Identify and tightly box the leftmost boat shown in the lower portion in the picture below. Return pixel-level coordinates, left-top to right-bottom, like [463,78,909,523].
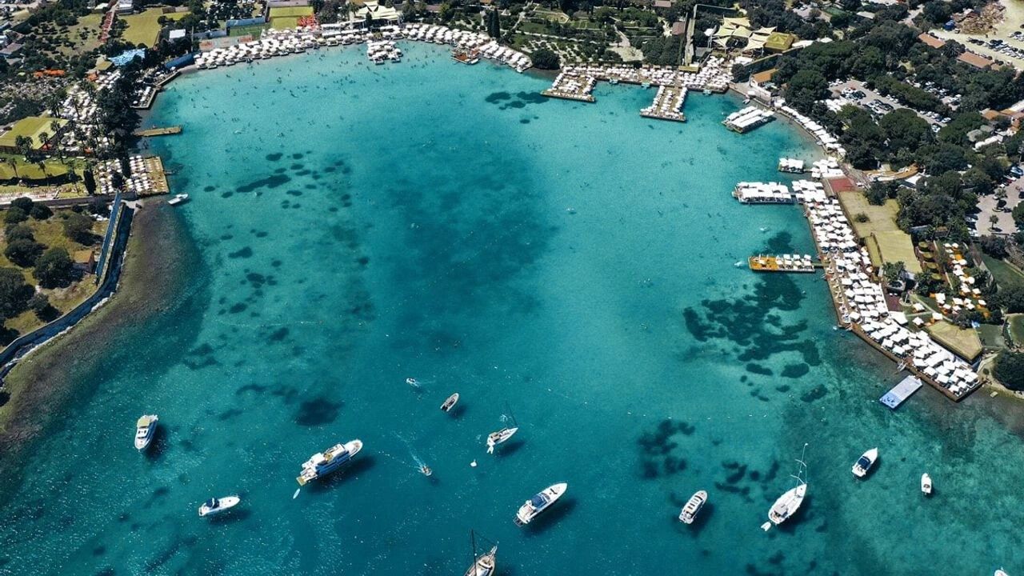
[137,411,160,451]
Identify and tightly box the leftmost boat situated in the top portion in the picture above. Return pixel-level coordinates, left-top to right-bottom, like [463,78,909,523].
[168,194,188,206]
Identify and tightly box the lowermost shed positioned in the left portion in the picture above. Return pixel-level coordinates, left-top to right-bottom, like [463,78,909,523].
[74,246,94,270]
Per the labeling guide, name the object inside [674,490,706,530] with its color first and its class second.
white boat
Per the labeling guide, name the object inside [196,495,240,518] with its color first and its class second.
white boat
